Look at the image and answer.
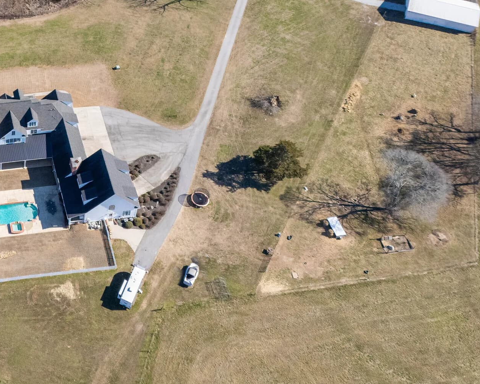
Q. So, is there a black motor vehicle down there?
No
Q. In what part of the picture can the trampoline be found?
center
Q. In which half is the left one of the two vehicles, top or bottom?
bottom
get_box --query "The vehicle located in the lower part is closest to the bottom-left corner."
[115,266,147,312]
